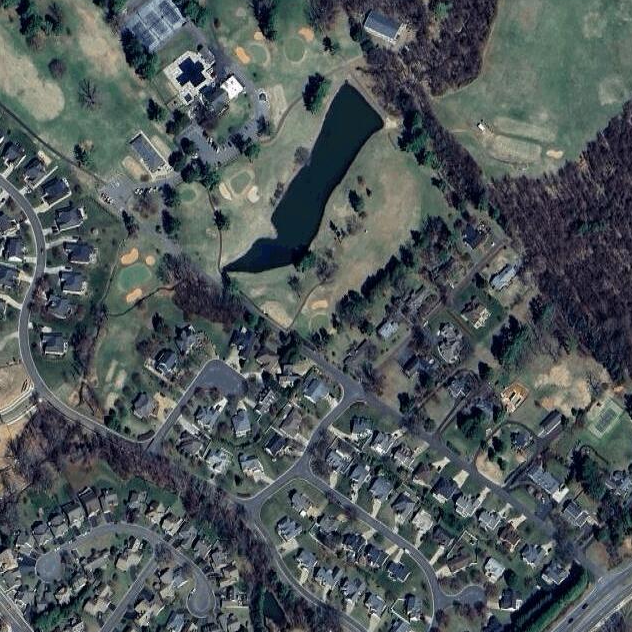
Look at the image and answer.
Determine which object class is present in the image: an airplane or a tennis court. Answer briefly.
tennis court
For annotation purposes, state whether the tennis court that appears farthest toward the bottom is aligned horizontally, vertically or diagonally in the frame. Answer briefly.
diagonally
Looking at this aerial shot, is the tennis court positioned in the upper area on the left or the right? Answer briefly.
left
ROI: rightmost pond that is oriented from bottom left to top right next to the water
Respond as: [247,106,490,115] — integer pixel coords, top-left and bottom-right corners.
[224,81,382,273]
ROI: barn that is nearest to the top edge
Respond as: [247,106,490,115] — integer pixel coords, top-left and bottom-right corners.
[362,12,401,46]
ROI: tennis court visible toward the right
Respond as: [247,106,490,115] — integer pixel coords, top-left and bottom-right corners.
[589,397,624,438]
